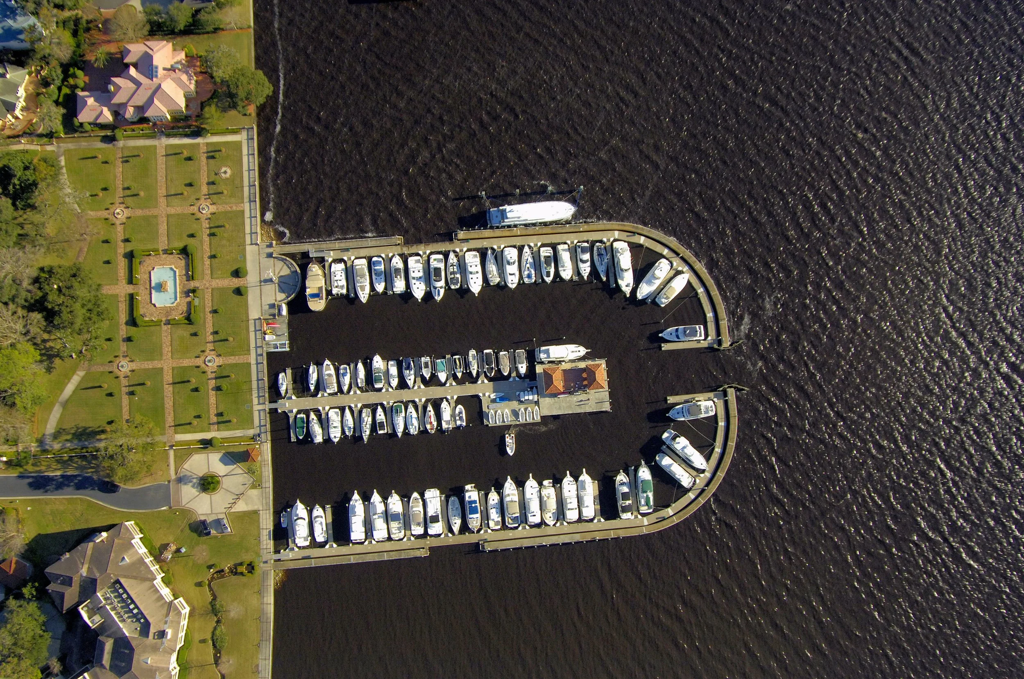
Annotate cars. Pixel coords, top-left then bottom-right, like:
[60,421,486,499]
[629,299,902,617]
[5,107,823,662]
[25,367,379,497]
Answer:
[200,518,213,538]
[220,516,232,535]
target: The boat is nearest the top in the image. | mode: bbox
[483,201,577,229]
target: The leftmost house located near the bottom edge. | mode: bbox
[45,521,190,679]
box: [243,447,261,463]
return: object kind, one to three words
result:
gazebo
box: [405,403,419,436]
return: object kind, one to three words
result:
boat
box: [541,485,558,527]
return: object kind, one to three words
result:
boat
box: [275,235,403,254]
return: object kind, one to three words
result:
pier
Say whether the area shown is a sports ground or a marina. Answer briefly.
marina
